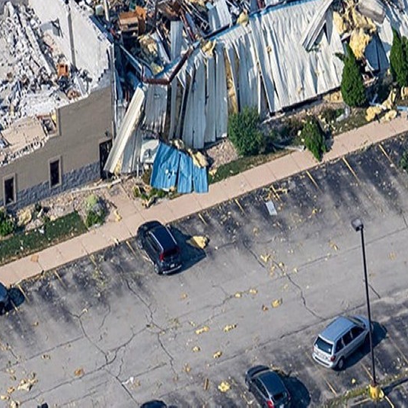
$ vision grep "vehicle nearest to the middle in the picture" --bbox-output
[137,218,183,277]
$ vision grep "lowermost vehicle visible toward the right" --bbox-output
[243,362,299,408]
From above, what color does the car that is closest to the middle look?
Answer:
black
